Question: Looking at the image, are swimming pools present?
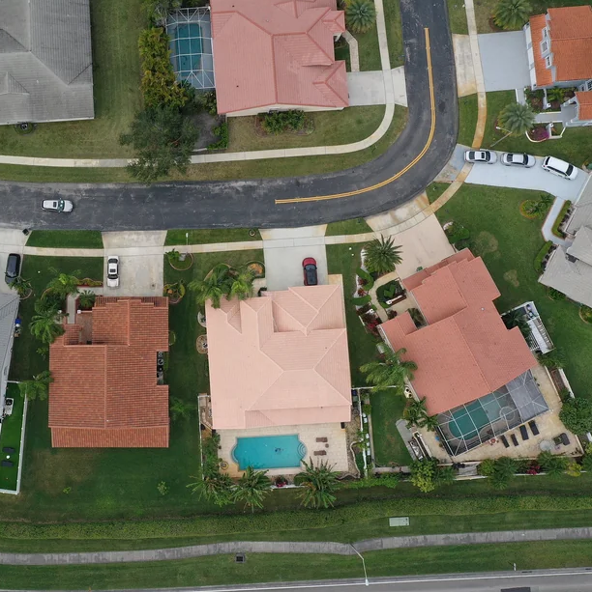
Yes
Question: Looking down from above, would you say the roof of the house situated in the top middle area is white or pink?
pink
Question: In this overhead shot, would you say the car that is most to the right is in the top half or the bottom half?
top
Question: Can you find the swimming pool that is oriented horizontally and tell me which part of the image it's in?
bottom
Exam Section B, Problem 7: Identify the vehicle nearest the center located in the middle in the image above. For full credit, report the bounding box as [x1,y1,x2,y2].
[303,257,317,285]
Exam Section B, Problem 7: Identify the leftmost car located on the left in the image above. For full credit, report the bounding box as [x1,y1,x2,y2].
[4,254,21,283]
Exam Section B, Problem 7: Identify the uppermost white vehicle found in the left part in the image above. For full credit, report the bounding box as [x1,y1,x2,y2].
[41,198,74,213]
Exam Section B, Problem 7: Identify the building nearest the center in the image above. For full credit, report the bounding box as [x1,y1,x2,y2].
[205,284,352,428]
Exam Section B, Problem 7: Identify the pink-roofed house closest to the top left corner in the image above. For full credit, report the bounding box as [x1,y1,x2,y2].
[211,0,349,115]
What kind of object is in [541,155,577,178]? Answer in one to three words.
car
